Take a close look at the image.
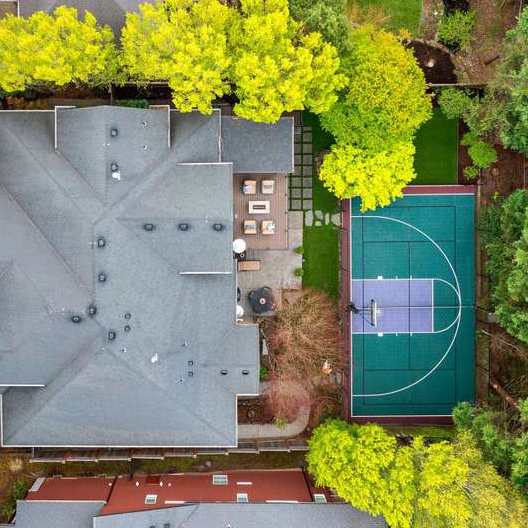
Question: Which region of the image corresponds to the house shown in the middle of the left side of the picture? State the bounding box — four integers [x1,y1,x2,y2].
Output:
[0,105,262,448]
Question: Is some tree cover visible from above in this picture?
Yes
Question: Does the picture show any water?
No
